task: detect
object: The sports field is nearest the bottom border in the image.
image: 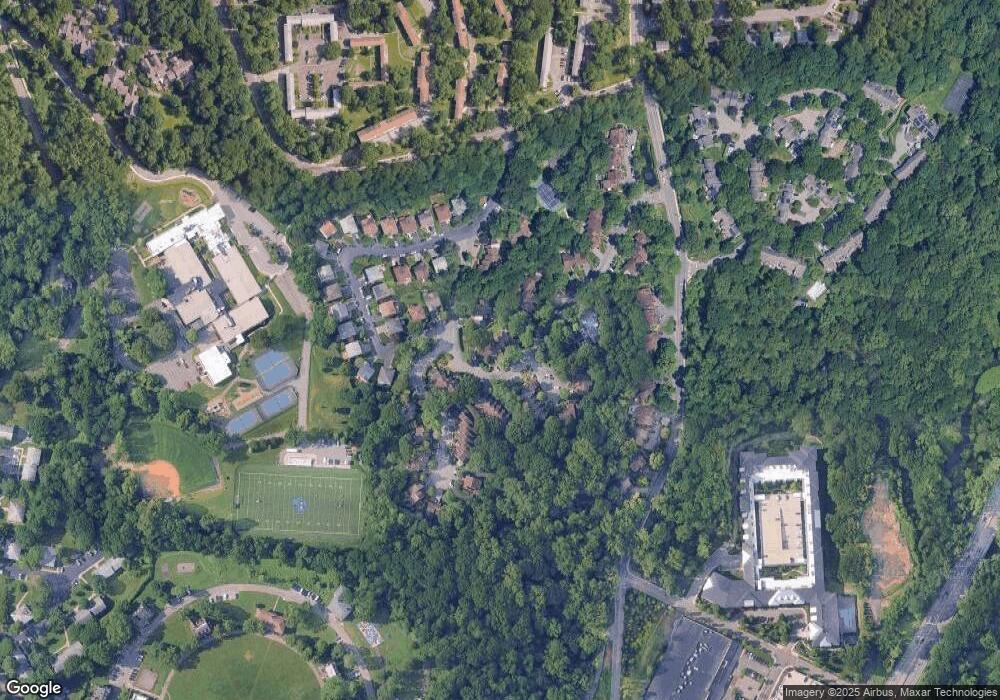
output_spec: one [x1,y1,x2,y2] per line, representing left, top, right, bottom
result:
[174,634,318,700]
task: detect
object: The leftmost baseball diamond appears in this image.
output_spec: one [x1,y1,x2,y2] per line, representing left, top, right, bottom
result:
[125,421,222,500]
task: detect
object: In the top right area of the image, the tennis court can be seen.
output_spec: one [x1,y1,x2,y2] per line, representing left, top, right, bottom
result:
[944,73,973,112]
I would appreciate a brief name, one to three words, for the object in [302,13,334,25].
building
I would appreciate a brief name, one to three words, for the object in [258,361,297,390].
tennis court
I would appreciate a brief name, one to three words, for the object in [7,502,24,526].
house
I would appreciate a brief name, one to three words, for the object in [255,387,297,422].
tennis court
